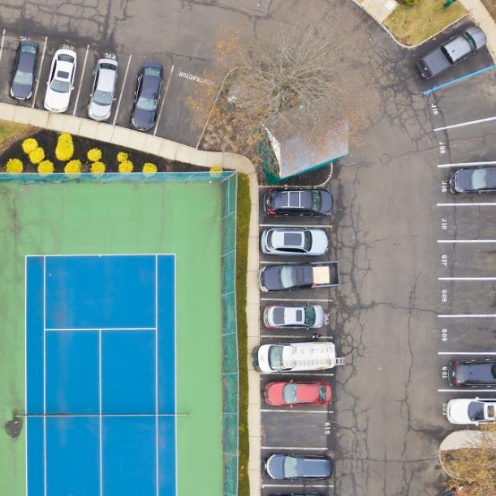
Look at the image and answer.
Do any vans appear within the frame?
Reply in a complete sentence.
Yes, the image includes a van.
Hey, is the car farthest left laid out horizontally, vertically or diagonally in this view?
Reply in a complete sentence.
In this picture, the car farthest left lies vertically.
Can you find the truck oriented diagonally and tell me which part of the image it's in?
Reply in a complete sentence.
The truck oriented diagonally sits in the top right section of the image.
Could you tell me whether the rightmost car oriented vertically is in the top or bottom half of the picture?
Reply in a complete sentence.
Seen from above, the rightmost car oriented vertically lies in the top half of the view.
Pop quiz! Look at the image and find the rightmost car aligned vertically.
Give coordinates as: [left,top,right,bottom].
[128,61,163,132]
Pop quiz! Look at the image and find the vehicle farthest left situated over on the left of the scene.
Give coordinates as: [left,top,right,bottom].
[7,38,39,103]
